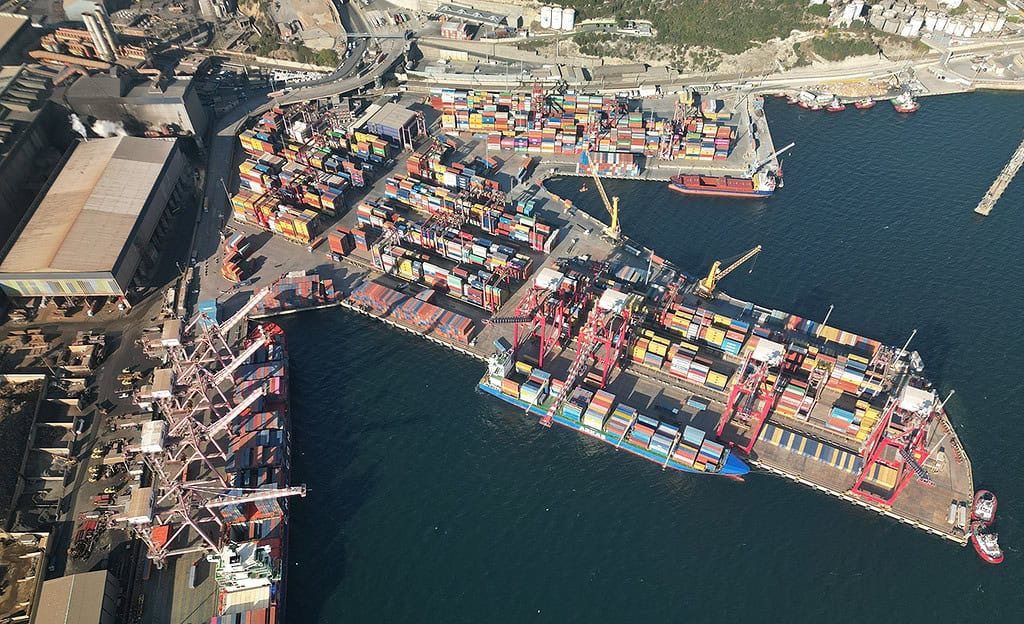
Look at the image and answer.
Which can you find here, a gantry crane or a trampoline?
gantry crane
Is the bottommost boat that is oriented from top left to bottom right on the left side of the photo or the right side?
right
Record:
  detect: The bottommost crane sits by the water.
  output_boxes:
[115,478,307,571]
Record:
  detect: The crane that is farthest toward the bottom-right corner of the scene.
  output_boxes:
[853,380,945,505]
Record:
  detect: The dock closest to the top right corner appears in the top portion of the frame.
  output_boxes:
[974,130,1024,217]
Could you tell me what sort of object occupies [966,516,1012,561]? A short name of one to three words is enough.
boat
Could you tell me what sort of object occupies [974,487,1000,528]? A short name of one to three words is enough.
boat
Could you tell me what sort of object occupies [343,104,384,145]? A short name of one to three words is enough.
shed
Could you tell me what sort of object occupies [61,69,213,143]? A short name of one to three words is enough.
building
